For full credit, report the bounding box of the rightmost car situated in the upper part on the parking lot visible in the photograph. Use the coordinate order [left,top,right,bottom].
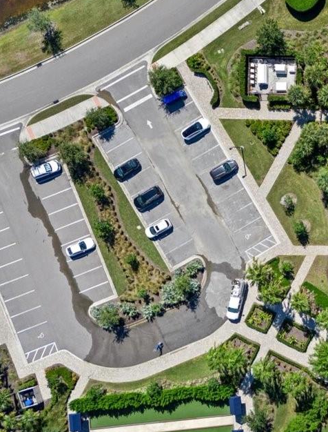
[206,161,238,182]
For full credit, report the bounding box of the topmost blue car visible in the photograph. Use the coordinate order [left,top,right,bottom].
[157,88,186,107]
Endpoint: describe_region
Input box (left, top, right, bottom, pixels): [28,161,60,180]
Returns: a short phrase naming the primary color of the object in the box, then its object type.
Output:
white car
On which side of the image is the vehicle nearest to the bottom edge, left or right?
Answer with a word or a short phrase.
right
